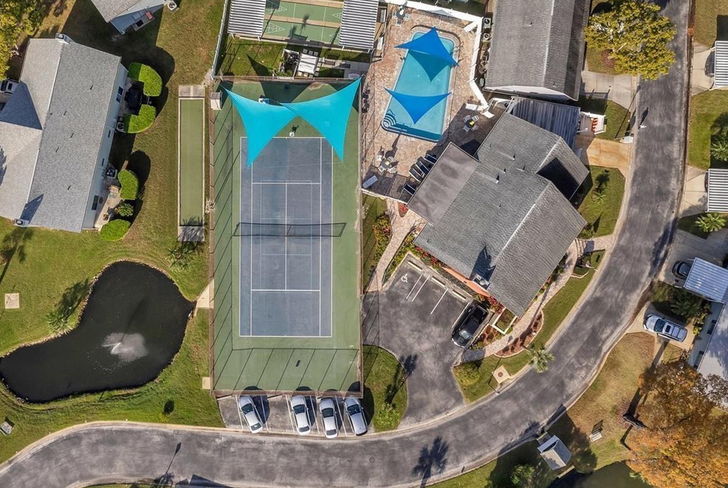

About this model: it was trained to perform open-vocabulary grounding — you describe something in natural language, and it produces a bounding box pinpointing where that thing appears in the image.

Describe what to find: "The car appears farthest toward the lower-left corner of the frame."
[239,395,264,435]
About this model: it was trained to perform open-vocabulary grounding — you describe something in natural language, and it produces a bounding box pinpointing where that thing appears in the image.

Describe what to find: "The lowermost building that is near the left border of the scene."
[0,31,127,233]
